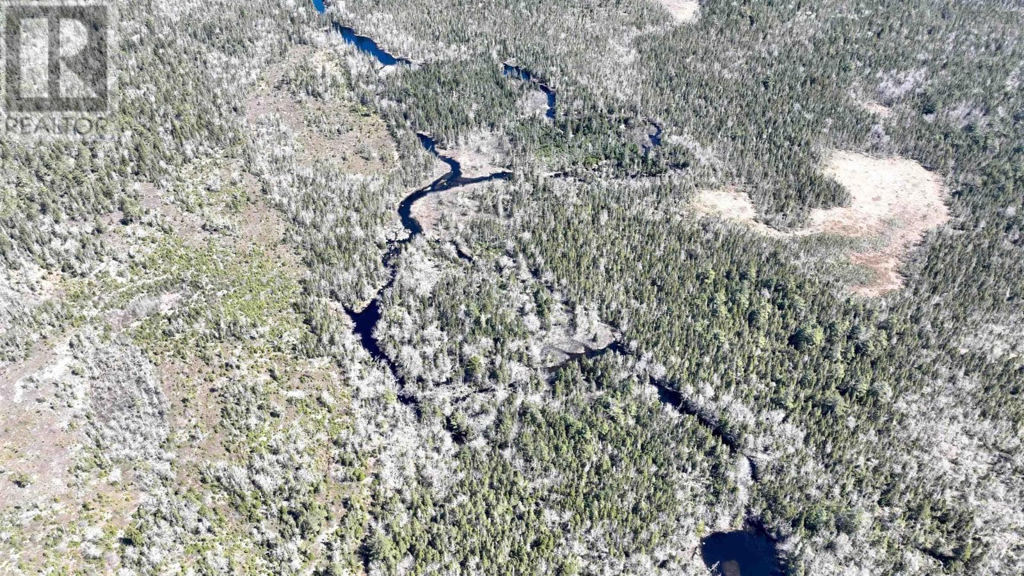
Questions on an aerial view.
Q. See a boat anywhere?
No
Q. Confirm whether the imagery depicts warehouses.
No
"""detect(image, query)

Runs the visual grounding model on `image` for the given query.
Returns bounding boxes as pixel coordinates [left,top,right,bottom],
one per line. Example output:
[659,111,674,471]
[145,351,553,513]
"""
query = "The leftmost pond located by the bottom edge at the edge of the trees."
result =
[700,521,789,576]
